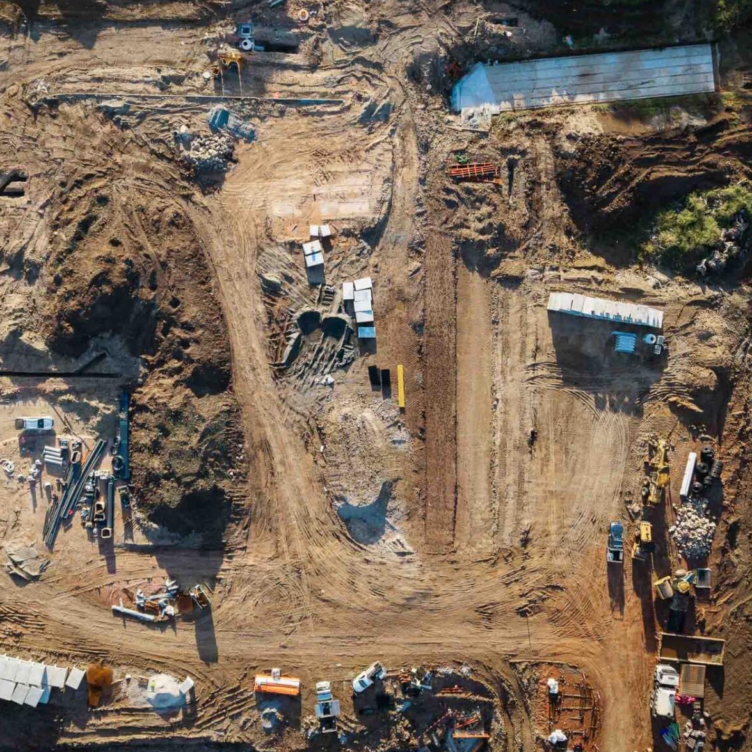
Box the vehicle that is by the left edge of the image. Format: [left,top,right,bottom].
[17,416,59,433]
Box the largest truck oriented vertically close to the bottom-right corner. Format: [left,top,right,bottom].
[646,658,675,735]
